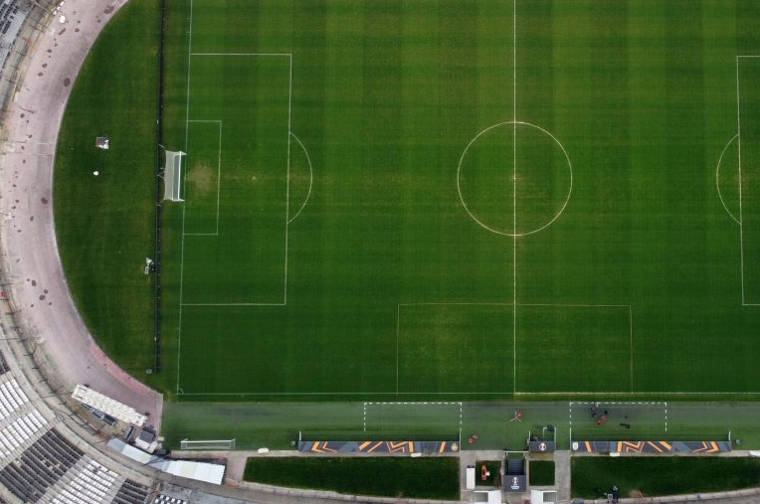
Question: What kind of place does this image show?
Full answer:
It's a sports ground.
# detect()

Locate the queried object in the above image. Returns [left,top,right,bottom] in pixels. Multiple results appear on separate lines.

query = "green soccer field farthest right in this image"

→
[166,0,760,402]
